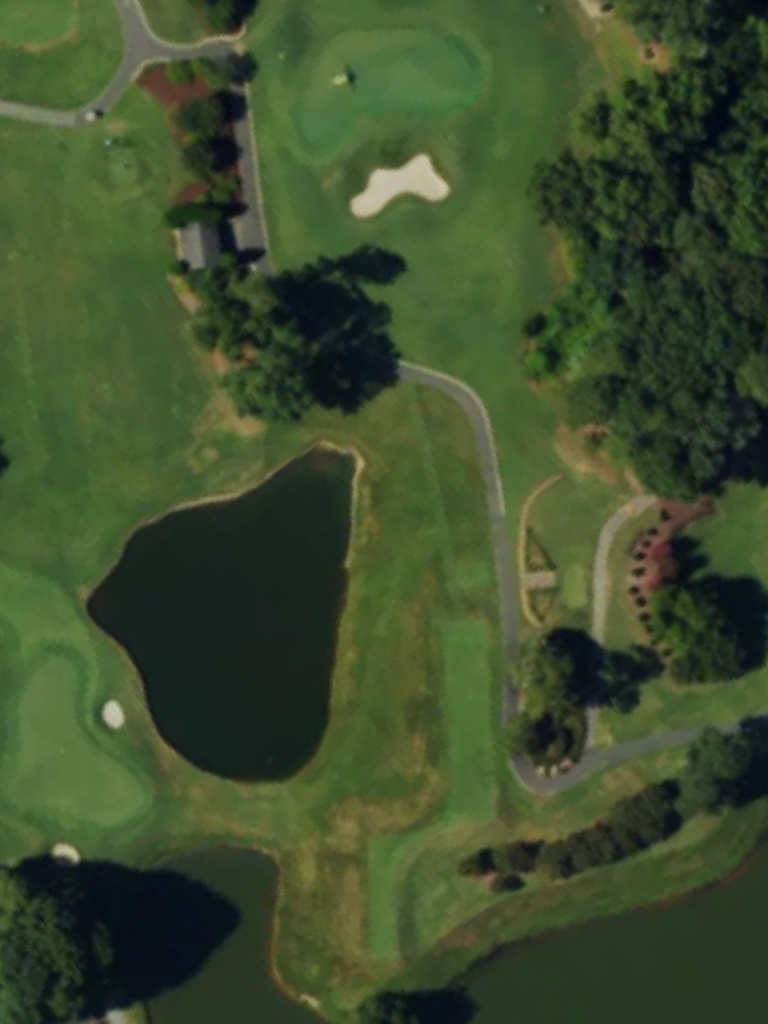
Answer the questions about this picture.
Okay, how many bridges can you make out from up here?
0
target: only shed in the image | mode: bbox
[179,220,221,270]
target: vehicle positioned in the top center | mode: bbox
[333,63,352,90]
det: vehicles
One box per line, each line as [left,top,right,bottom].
[82,109,98,122]
[333,63,352,90]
